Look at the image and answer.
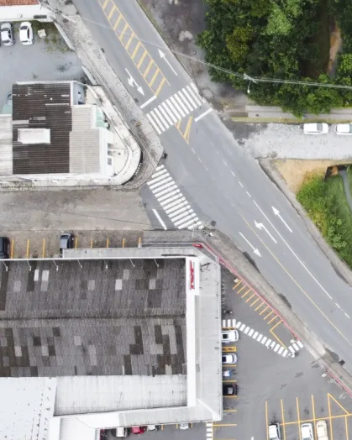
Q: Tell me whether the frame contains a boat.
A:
No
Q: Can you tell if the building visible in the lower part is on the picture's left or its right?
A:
left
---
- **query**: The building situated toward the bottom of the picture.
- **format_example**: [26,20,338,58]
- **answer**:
[0,242,230,440]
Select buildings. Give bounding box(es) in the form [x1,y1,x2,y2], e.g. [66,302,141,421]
[0,0,67,28]
[0,242,230,440]
[0,81,149,187]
